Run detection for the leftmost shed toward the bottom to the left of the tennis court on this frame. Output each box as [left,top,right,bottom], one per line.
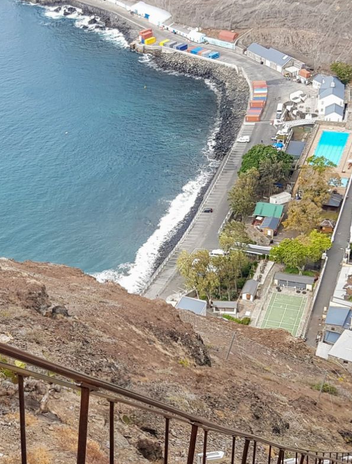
[174,293,212,323]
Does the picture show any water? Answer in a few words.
Yes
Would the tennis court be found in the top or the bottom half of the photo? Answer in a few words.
bottom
